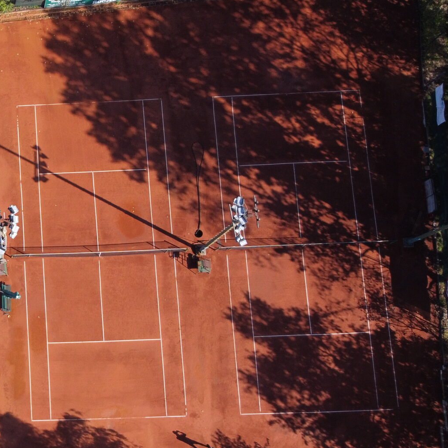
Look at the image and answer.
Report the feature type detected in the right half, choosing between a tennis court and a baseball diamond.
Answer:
tennis court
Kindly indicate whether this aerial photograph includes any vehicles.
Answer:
No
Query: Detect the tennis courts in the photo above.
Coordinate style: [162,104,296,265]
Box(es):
[10,92,194,428]
[205,84,408,422]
